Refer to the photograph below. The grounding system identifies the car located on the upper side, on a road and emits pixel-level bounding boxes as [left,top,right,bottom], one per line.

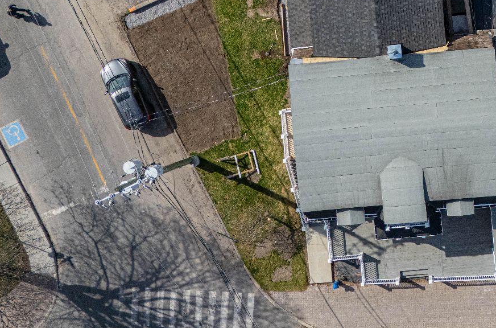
[101,54,156,134]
